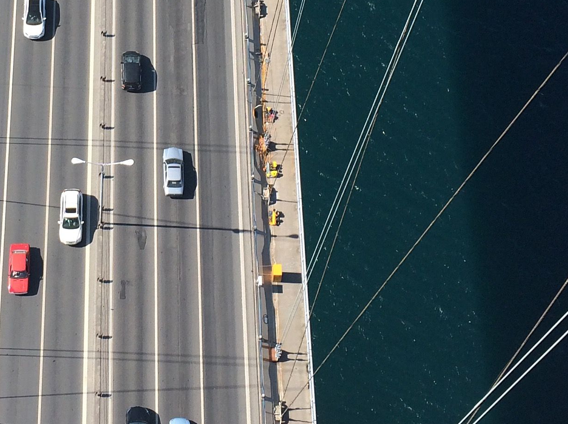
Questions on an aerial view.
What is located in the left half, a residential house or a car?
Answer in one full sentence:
What appears in the left half is a car.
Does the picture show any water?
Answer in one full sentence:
Yes, the picture does contain water.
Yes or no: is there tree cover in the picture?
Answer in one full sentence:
No, there's no tree cover in this view.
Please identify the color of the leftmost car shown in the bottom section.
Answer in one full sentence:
The leftmost car shown in the bottom section looks red in the image.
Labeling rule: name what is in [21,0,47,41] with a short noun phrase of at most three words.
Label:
car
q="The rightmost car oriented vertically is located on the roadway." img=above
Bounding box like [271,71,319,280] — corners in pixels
[162,148,186,201]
